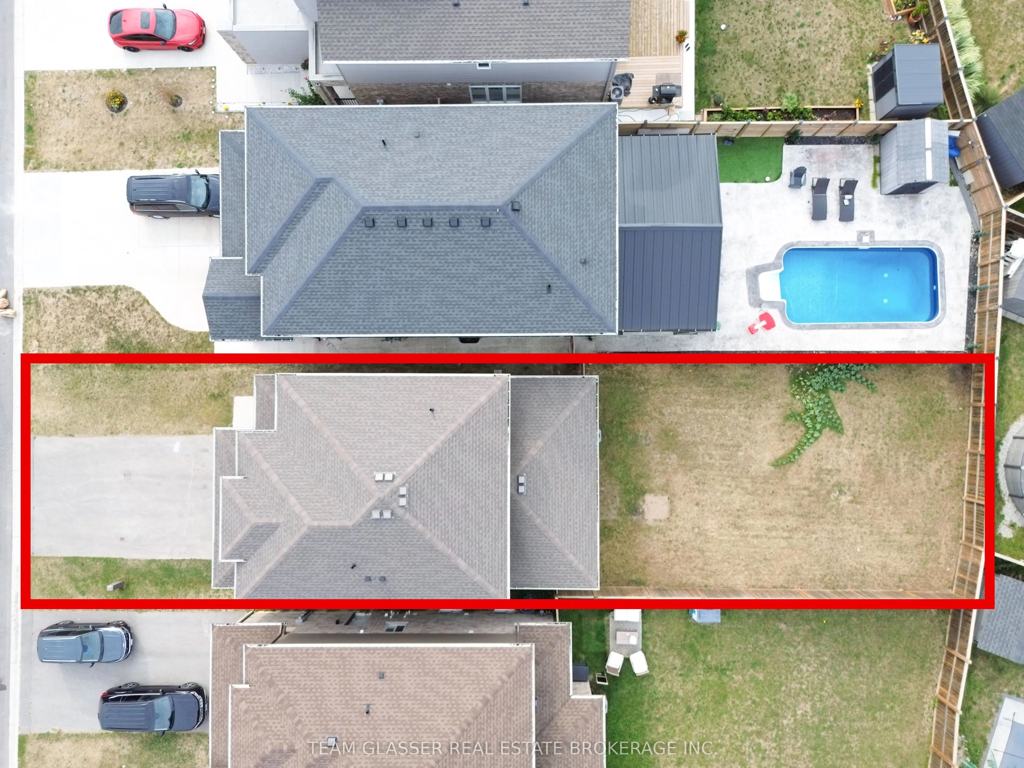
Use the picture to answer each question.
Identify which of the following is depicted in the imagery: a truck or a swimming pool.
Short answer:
swimming pool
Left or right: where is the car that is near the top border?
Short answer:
left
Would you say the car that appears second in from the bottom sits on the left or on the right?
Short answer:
left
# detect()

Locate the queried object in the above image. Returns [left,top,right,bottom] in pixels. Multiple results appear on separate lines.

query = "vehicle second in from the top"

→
[126,166,217,219]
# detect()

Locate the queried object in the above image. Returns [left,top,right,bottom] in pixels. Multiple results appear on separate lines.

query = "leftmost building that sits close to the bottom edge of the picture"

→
[207,601,608,768]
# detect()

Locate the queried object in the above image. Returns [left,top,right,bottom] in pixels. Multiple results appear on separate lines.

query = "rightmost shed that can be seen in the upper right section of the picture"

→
[977,92,1024,187]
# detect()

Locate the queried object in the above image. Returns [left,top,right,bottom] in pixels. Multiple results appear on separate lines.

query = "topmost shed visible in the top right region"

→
[873,42,945,118]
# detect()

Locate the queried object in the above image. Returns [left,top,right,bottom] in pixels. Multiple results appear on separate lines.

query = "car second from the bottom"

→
[34,620,141,675]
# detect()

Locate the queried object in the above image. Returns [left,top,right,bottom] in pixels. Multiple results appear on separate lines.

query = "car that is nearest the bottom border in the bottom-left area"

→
[96,681,208,740]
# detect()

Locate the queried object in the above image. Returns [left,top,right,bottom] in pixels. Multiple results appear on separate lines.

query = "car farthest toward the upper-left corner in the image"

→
[106,0,210,53]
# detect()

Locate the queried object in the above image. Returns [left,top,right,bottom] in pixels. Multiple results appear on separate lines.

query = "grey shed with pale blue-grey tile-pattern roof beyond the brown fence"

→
[961,568,1024,664]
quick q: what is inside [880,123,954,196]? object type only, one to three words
shed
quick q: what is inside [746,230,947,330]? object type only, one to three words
swimming pool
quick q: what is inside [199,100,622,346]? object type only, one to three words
house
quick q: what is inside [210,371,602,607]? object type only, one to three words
house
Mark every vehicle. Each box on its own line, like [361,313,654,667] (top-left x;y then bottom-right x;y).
[96,681,208,740]
[34,620,141,675]
[106,0,210,53]
[126,166,217,219]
